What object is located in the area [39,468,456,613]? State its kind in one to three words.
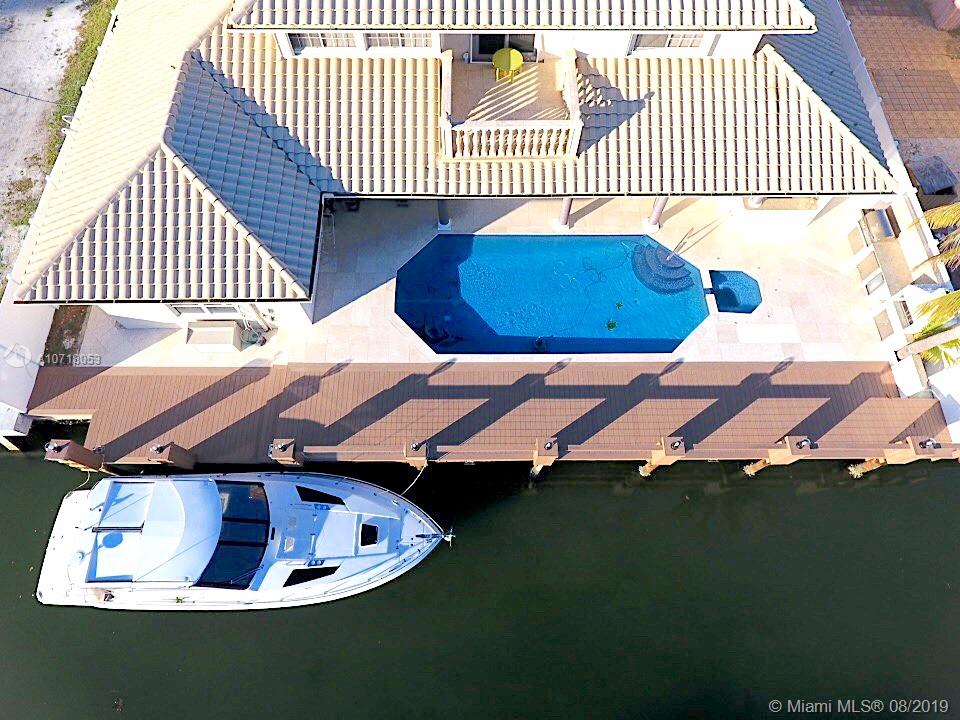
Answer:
boat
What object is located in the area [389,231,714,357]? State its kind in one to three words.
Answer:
swimming pool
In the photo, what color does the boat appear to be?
white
